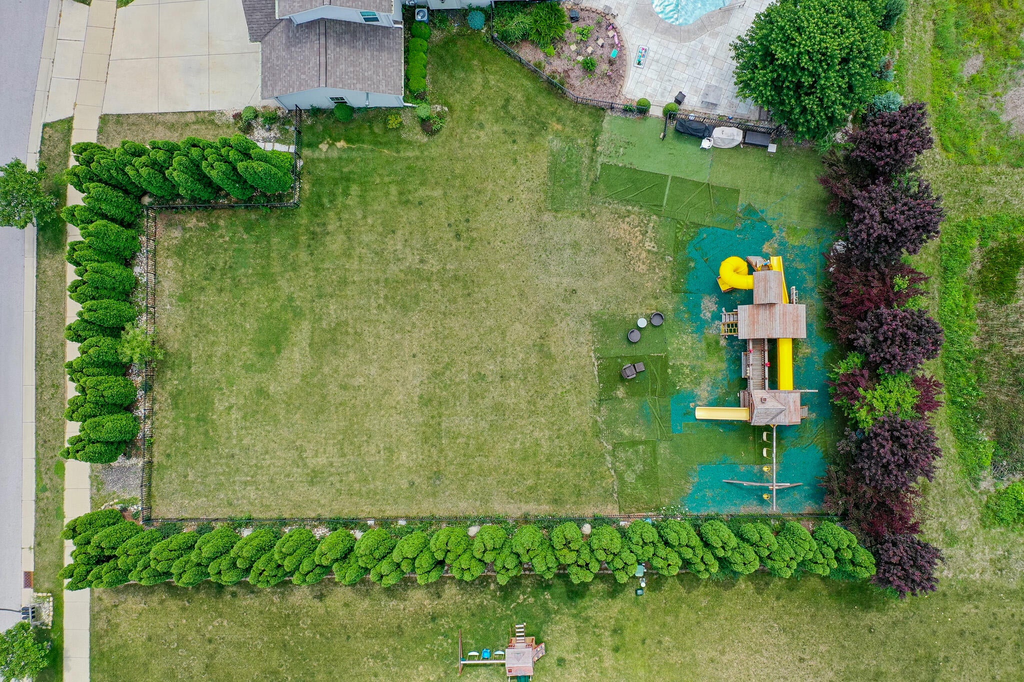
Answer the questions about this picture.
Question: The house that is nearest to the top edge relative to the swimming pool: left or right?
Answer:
to the left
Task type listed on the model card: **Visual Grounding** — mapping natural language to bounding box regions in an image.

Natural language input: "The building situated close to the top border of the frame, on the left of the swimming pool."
[241,0,494,111]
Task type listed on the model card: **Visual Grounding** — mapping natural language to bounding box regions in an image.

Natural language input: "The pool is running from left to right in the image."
[629,0,746,42]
